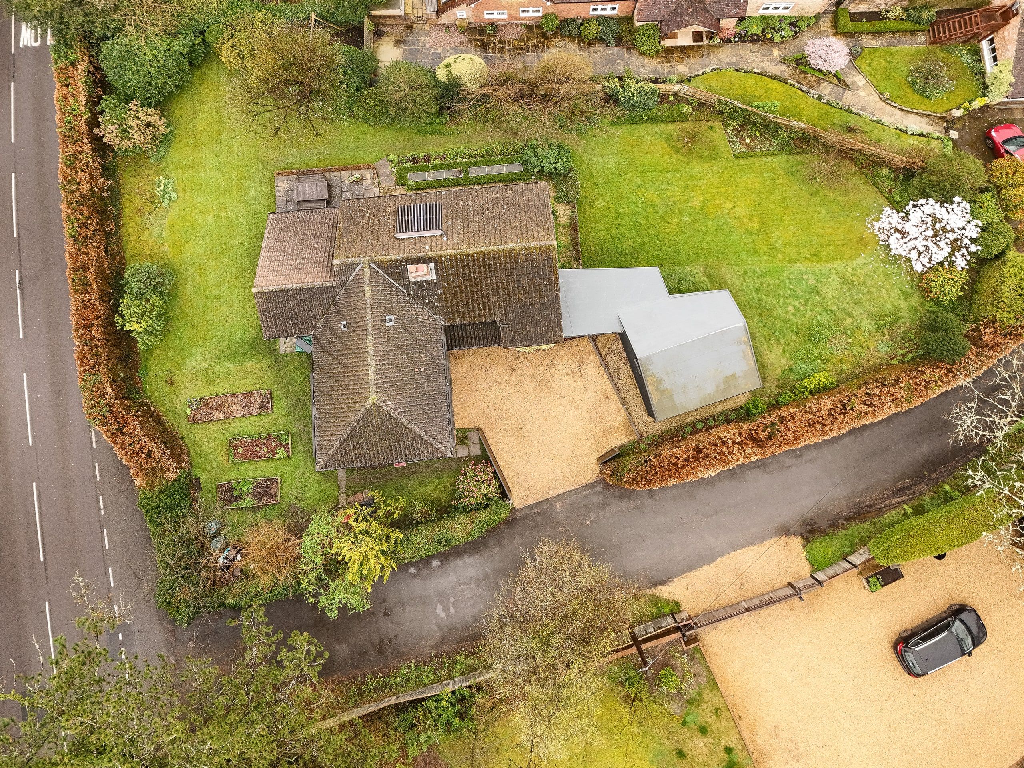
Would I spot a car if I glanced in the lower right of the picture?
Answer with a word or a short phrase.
Yes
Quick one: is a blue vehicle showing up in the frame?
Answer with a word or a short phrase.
No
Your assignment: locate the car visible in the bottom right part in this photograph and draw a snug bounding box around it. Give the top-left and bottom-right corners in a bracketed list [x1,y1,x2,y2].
[896,602,982,675]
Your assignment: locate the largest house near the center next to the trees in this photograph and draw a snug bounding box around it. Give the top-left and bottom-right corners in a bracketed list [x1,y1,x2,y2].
[254,179,566,473]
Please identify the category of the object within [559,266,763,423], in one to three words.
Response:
building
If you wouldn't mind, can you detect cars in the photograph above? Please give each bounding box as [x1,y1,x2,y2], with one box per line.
[984,125,1024,171]
[896,602,982,675]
